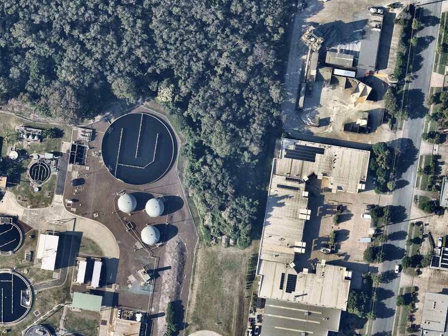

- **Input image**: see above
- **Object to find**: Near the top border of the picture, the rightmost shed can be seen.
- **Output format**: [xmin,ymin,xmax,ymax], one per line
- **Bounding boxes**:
[354,15,383,71]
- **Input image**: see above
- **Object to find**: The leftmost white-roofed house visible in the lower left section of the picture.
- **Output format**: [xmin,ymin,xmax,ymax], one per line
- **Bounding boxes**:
[34,234,59,270]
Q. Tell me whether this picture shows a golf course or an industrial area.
industrial area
